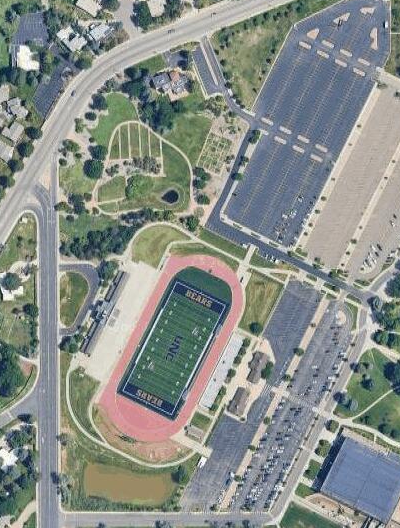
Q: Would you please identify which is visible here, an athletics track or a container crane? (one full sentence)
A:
Looking from above, you can make out an athletics track.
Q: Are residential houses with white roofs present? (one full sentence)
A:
Yes, this view includes a residential house with a white roof.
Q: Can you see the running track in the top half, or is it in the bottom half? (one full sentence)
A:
Seen from above, the running track lies in the bottom half of the view.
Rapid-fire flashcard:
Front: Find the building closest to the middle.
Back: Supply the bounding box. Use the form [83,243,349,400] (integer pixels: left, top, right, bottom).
[243,347,271,384]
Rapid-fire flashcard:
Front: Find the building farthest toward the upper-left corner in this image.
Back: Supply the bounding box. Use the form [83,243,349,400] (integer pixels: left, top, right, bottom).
[17,46,38,73]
